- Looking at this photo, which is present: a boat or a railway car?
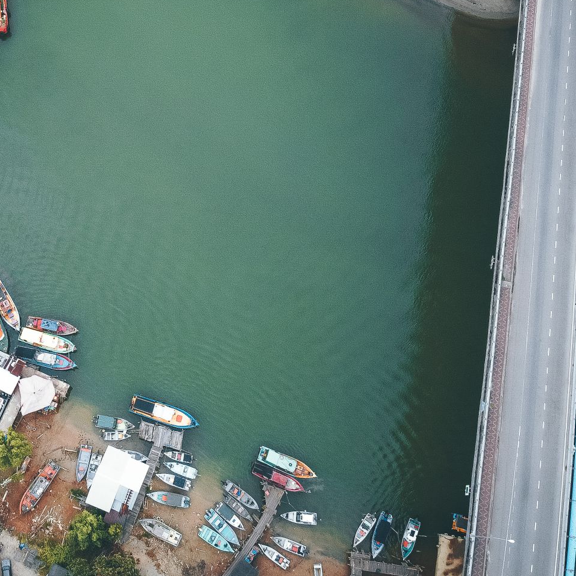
boat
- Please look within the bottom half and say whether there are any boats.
Yes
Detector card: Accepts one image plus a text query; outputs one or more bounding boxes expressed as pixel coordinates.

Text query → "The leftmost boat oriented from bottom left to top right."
[18,460,59,515]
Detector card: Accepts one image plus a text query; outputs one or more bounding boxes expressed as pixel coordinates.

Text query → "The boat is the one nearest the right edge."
[450,515,463,532]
